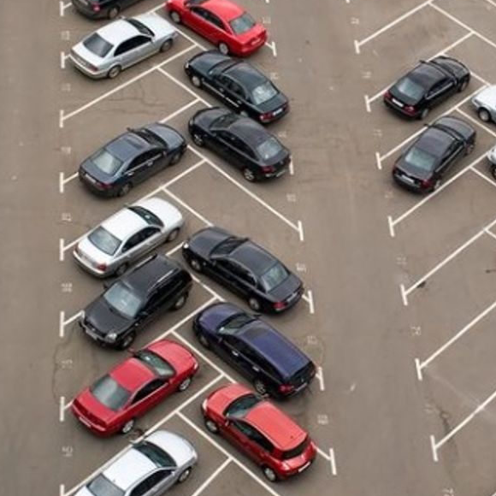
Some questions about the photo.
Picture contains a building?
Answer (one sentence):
No, there is no building in the image.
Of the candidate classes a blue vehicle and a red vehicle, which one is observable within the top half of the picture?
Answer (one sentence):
The one visible within the top half of the picture is a red vehicle.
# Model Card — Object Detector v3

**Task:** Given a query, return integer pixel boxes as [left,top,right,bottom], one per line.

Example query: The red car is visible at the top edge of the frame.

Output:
[167,0,267,59]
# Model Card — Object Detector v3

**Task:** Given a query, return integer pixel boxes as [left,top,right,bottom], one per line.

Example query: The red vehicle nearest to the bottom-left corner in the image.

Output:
[76,343,200,439]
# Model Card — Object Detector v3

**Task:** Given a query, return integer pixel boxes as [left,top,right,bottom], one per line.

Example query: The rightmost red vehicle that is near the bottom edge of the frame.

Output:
[200,384,320,484]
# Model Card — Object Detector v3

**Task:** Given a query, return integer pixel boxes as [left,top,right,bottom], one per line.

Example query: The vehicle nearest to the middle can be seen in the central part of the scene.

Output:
[185,227,305,319]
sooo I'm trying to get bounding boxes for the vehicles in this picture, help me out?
[77,124,189,201]
[73,0,143,20]
[80,250,196,350]
[76,343,200,439]
[382,53,475,121]
[200,384,320,484]
[167,0,267,59]
[190,304,313,402]
[71,428,202,496]
[185,227,305,319]
[188,108,296,187]
[187,51,288,123]
[76,199,187,280]
[68,13,180,82]
[393,119,482,189]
